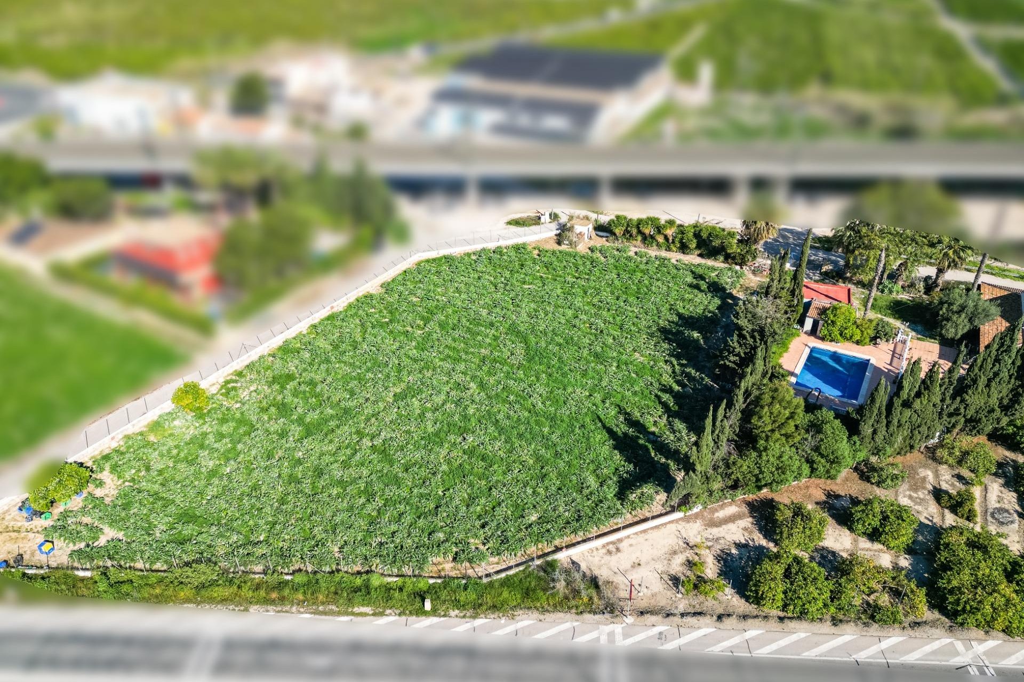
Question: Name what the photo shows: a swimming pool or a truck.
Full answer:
Of the two, only a swimming pool appears.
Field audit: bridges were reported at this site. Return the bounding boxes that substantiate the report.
[0,140,1024,199]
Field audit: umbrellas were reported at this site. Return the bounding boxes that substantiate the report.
[36,542,58,568]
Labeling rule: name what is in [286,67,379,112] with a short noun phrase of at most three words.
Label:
house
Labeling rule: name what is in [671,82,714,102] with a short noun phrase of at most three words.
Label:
building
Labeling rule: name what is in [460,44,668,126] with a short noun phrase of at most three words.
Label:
building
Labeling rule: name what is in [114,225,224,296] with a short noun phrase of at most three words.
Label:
house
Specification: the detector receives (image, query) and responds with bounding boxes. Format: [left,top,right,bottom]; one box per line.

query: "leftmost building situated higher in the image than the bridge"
[53,89,189,139]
